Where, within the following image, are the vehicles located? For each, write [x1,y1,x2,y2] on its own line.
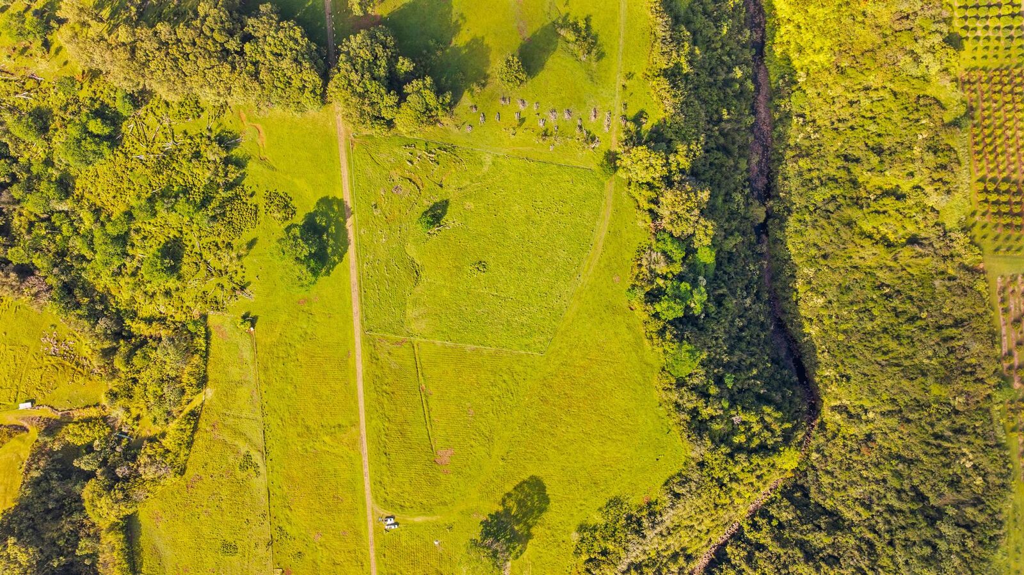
[383,517,396,523]
[385,524,399,530]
